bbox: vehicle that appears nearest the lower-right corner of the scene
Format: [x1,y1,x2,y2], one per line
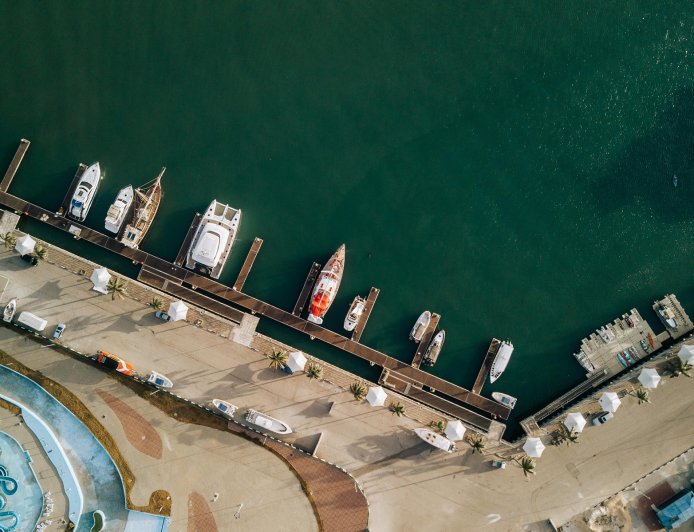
[592,411,613,426]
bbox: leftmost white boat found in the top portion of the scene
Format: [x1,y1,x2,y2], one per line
[69,162,101,224]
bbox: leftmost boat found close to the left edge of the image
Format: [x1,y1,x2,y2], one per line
[4,298,19,323]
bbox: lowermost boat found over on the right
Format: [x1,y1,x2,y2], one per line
[410,425,455,453]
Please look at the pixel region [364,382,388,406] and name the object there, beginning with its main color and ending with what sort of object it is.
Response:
white tent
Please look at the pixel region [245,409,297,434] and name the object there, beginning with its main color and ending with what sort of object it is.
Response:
white boat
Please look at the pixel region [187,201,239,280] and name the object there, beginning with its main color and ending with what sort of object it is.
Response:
white boat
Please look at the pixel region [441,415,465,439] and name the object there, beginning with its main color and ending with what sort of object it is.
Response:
white tent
